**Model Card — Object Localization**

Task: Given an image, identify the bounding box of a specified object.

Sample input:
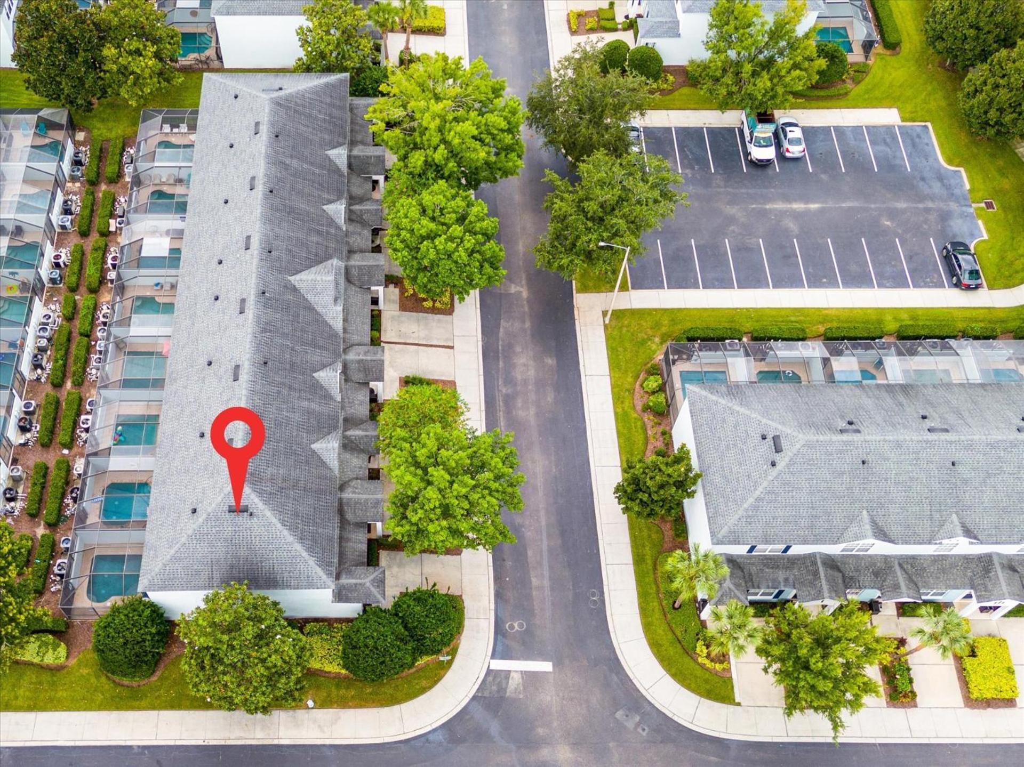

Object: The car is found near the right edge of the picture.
[941,240,980,291]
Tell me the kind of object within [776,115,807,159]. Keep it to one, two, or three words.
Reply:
car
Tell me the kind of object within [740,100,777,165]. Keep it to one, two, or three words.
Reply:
truck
